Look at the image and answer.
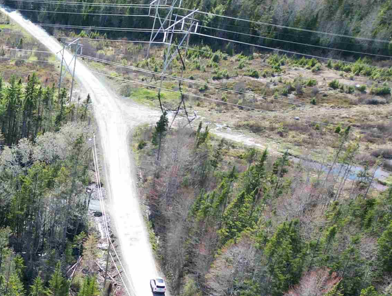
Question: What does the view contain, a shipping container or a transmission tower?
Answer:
transmission tower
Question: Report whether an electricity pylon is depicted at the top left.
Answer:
Yes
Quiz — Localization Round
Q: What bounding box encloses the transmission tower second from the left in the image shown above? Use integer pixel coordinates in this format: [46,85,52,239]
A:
[146,0,173,58]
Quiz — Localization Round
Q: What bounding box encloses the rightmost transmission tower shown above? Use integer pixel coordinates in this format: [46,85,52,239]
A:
[161,7,195,90]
